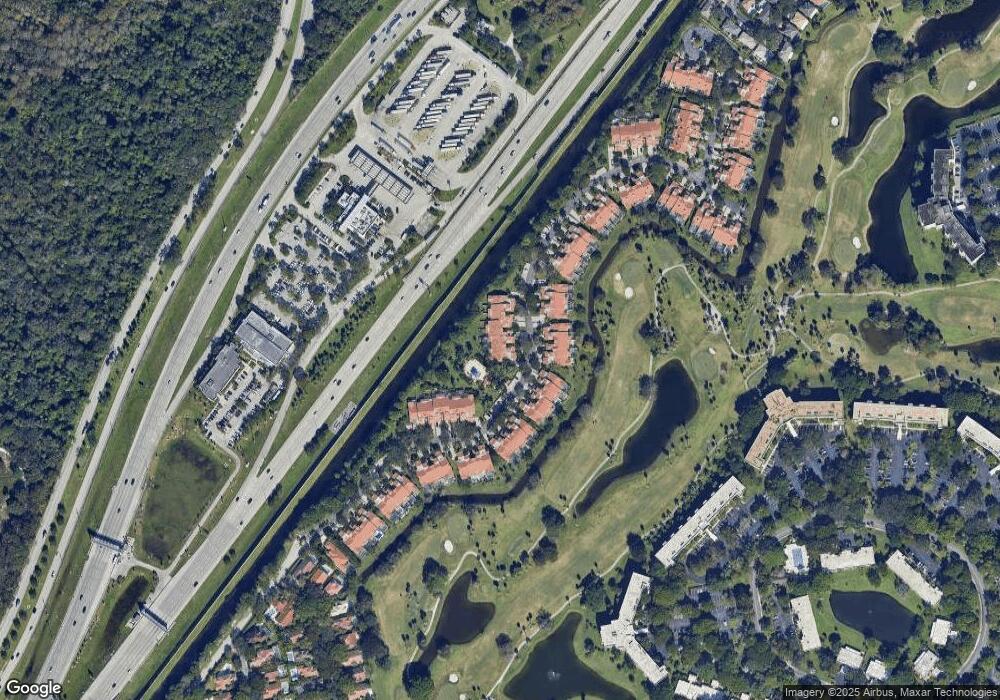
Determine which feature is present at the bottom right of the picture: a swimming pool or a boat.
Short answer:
swimming pool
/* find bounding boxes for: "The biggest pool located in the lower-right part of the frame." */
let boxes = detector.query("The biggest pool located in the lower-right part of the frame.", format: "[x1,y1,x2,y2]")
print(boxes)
[785,545,809,572]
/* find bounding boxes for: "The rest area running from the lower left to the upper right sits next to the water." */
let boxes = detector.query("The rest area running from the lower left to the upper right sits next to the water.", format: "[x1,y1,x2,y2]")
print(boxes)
[203,0,534,446]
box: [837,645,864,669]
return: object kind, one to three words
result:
building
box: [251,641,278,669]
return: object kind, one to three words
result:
house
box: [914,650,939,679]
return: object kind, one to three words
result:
building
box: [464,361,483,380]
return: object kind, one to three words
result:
swimming pool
